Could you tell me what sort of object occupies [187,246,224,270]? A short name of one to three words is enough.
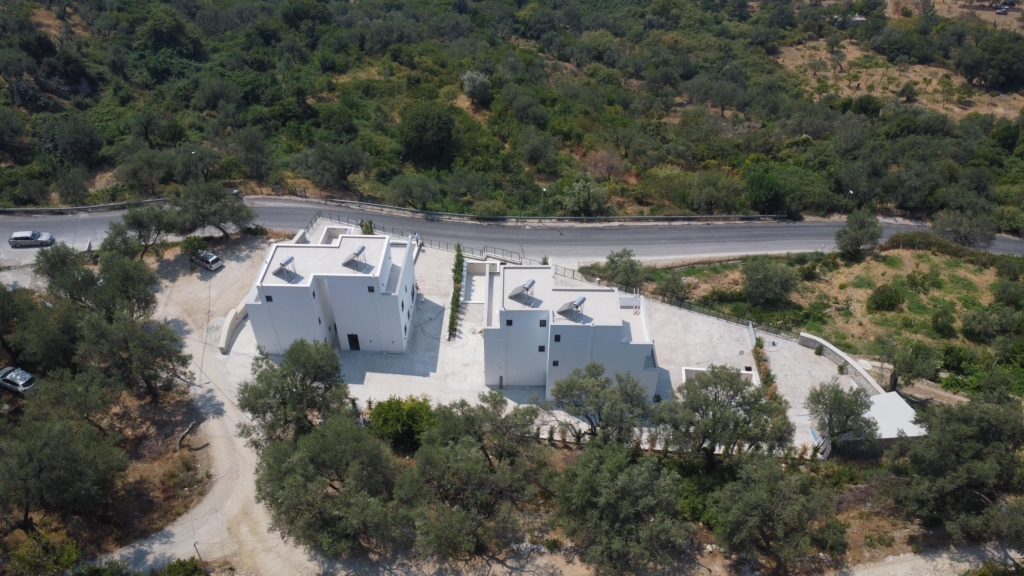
car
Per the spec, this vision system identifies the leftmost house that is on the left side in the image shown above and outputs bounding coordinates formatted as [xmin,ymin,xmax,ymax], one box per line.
[245,234,419,360]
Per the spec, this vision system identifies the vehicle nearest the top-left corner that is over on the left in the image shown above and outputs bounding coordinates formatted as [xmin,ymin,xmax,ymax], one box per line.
[8,228,56,247]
